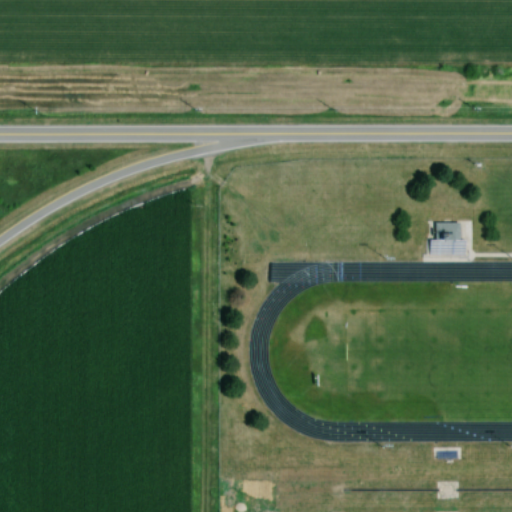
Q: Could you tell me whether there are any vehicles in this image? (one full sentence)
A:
No, no vehicle is visible in the view.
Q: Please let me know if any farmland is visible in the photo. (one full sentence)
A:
Yes, some farmland is visible.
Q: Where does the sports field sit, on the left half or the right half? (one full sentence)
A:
The sports field is on the right side of the image.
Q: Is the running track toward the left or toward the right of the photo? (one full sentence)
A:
It is on the right.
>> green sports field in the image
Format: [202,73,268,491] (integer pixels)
[270,281,512,422]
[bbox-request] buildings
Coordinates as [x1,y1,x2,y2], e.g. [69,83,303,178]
[435,222,460,240]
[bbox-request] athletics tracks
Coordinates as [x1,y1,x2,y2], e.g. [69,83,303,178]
[250,262,512,441]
